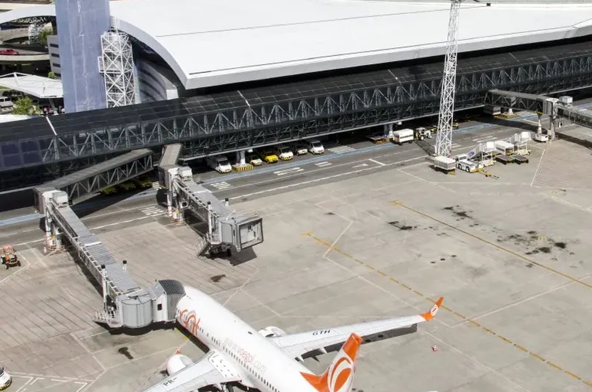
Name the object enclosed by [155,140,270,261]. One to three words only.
jet bridge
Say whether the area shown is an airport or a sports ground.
airport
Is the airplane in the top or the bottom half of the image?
bottom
